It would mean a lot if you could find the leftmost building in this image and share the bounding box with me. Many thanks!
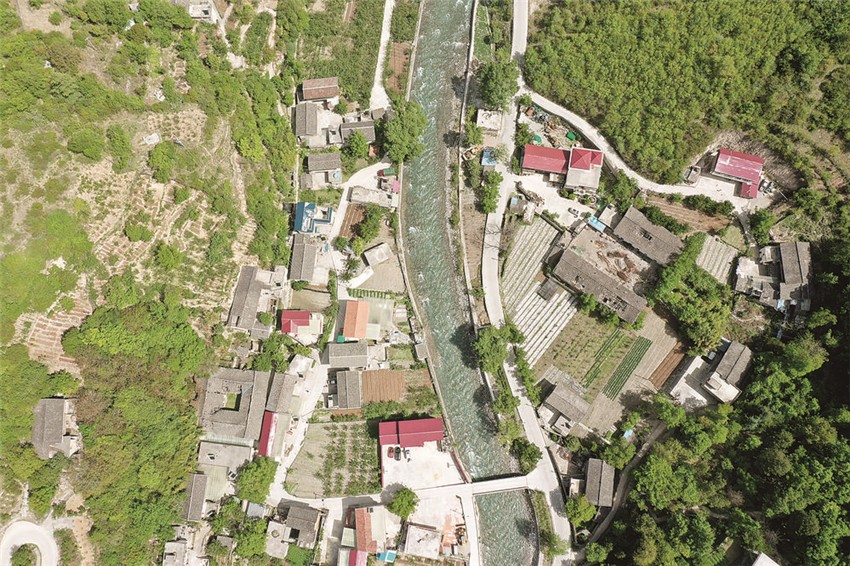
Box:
[31,398,84,458]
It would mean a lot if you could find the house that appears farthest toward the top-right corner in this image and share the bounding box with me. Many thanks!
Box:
[709,148,765,198]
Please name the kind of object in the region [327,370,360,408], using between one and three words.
house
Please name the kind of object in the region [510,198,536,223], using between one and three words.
shed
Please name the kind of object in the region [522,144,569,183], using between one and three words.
building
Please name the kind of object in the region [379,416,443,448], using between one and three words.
barn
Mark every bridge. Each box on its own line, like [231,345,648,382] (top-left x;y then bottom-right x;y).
[470,475,530,495]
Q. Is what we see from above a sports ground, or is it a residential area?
residential area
